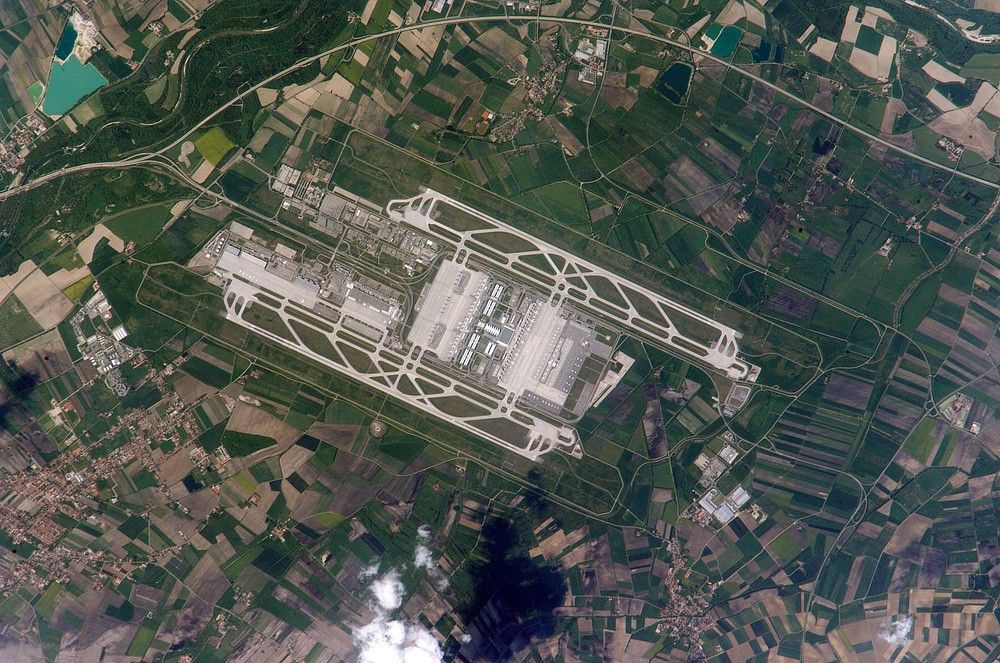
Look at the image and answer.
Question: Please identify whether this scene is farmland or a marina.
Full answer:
This image shows farmland.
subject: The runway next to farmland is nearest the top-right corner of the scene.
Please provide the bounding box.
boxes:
[420,185,744,339]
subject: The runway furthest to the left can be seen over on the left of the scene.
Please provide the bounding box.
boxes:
[219,310,545,465]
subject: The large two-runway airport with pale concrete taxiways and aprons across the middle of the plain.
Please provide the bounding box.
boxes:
[187,181,765,477]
